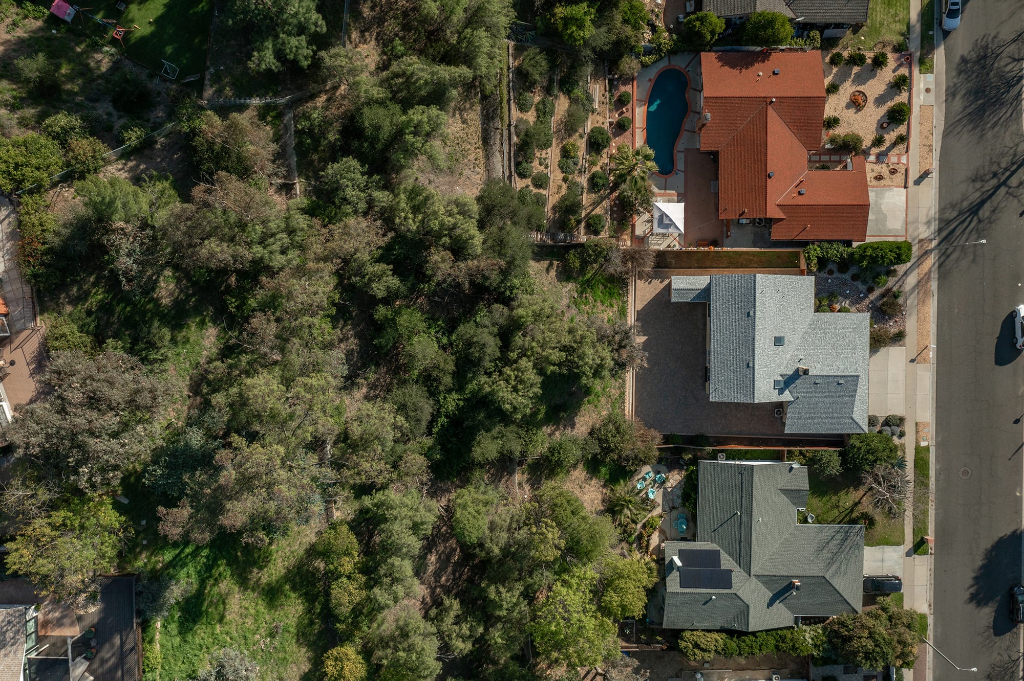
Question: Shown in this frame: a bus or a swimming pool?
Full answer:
Looking from above, you can make out a swimming pool.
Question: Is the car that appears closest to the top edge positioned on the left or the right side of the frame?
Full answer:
The car that appears closest to the top edge is on the right side of the image.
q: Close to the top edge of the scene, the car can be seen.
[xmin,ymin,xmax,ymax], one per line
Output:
[942,0,969,30]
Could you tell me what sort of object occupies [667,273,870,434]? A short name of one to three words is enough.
house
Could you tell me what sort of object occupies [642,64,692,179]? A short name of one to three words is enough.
swimming pool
